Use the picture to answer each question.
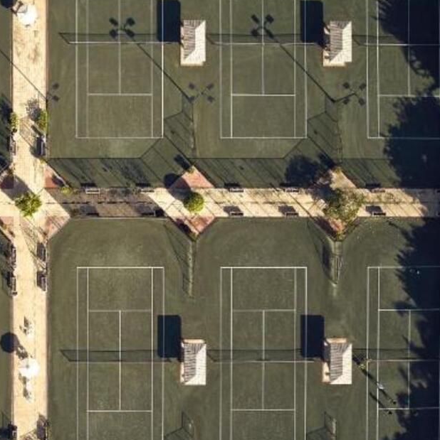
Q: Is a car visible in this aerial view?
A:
No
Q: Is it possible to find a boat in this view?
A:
No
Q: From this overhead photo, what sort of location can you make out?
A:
sports ground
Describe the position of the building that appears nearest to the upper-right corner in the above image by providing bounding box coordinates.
[324,20,353,67]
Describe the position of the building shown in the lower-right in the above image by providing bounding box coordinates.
[324,339,353,386]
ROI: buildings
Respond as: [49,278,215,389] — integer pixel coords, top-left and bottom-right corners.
[180,340,206,386]
[180,20,206,65]
[324,339,353,386]
[324,20,353,67]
